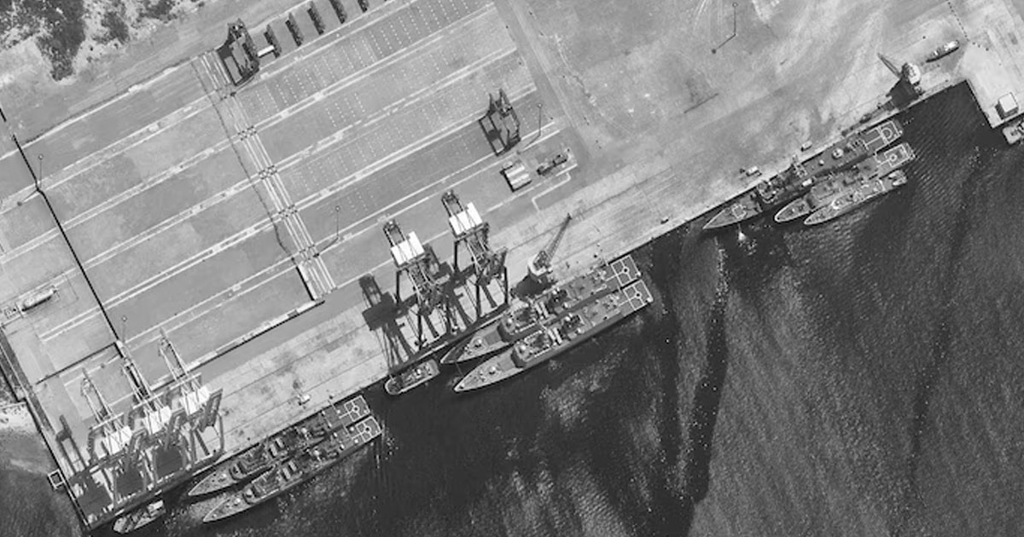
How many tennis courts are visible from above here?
0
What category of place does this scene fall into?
port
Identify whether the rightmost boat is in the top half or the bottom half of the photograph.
top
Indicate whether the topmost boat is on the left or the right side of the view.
right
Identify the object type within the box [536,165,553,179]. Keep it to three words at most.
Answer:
vehicle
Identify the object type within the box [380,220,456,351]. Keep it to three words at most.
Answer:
container crane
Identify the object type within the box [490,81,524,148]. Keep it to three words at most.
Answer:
crane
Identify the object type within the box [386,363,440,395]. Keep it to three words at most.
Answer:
boat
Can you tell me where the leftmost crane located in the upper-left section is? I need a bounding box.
[226,10,262,78]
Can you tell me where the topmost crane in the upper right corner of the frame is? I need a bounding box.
[884,50,931,101]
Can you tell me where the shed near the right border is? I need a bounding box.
[998,92,1018,118]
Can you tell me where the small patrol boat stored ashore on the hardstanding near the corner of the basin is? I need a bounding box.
[927,40,961,60]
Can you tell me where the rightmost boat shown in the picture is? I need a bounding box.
[1004,118,1024,144]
